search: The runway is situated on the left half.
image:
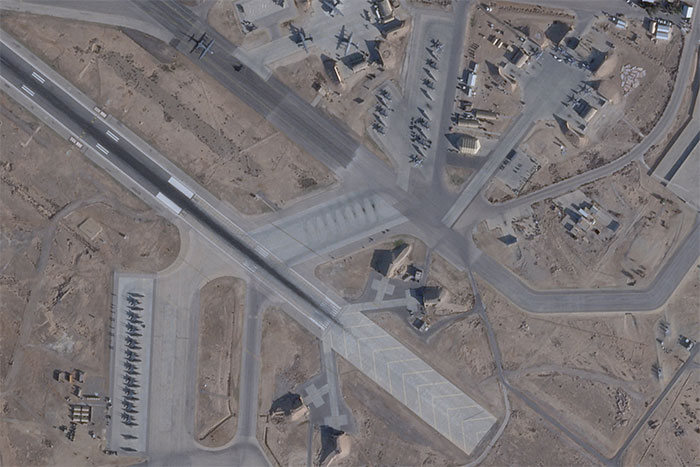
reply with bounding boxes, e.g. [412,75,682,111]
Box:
[0,29,348,336]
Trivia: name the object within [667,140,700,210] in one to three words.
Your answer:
shed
